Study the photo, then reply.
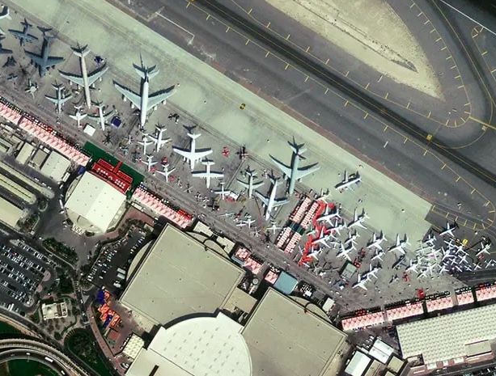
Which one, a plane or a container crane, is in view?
plane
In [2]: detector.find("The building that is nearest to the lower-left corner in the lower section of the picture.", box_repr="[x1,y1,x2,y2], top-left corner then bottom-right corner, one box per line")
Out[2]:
[43,303,67,320]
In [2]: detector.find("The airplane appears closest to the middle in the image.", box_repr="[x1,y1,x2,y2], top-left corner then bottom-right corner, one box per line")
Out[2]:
[235,170,264,198]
